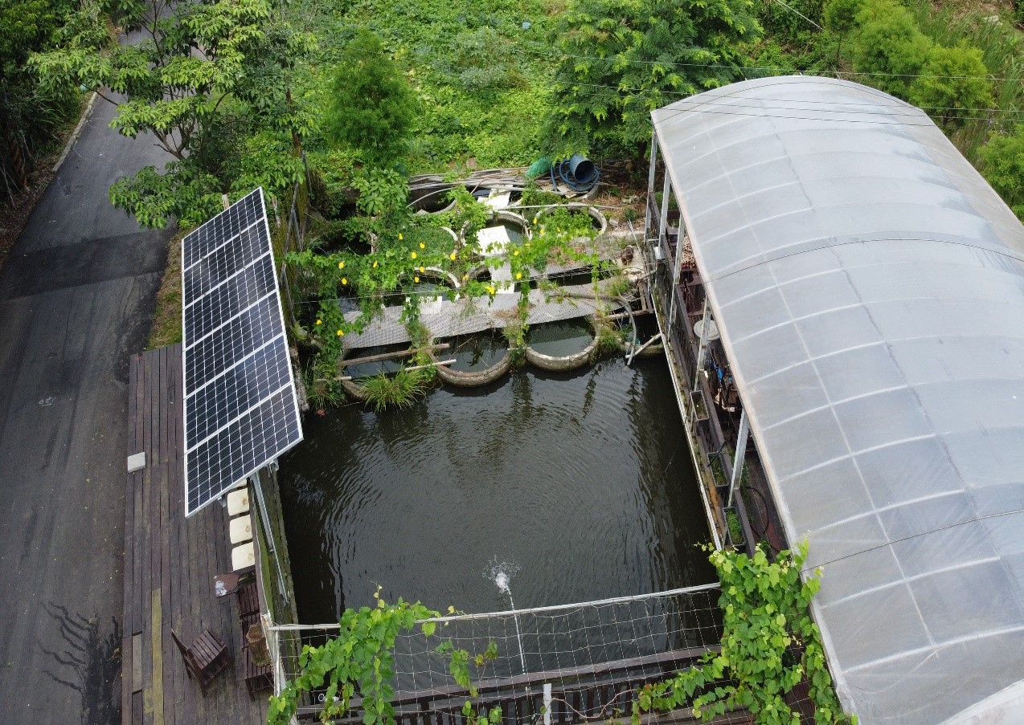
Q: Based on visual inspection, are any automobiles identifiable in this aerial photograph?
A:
No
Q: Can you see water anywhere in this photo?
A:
Yes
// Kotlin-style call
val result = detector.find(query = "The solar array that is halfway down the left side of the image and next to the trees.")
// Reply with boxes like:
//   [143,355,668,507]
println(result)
[181,188,305,605]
